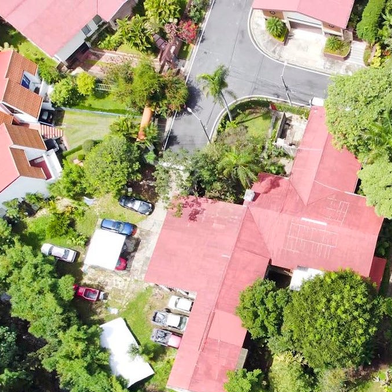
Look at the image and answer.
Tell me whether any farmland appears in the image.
No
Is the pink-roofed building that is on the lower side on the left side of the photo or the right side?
right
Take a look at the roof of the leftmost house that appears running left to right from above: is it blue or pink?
pink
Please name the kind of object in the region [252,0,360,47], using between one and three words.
house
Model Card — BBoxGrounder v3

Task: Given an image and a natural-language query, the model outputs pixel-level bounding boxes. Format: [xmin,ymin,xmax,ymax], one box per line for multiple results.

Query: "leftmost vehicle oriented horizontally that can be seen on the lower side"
[42,244,78,262]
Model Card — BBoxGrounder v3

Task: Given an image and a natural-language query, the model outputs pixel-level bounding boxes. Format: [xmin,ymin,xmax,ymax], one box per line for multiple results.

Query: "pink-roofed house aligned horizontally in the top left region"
[0,0,150,70]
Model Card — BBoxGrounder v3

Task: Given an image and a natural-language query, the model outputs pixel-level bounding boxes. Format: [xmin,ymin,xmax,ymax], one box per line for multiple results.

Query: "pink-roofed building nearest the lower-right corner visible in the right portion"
[144,106,387,392]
